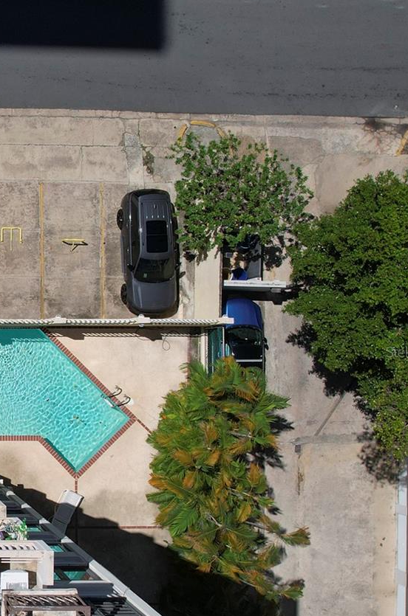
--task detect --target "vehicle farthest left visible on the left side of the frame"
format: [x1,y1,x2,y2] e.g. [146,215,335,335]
[116,189,184,317]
